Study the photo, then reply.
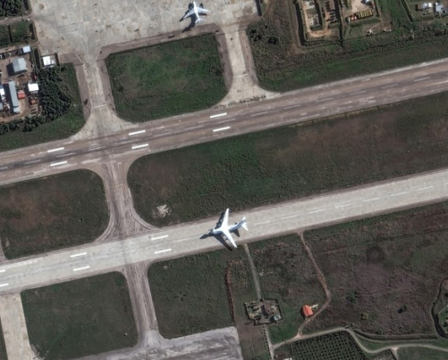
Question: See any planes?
Yes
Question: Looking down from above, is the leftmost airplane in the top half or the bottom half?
top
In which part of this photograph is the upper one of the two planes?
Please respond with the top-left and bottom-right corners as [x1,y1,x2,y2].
[184,0,210,24]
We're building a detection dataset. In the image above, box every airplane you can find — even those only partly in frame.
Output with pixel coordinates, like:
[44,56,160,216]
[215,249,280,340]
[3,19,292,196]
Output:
[184,0,210,24]
[210,207,248,246]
